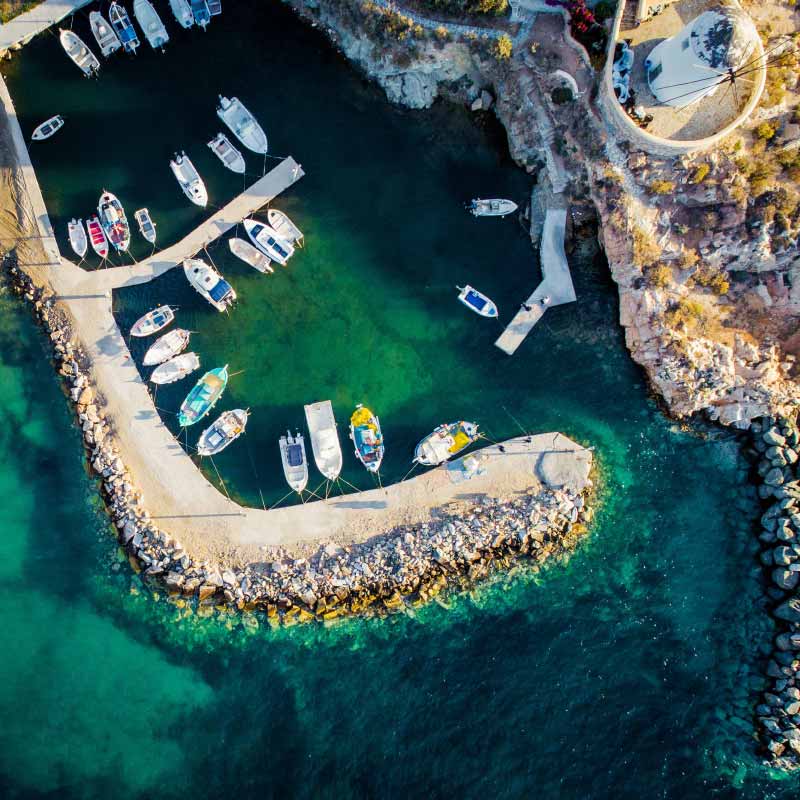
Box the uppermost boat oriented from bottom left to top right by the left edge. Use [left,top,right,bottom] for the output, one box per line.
[31,114,66,140]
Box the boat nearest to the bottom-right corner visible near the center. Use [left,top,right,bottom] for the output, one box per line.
[413,427,480,465]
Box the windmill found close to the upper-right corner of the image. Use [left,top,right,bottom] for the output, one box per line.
[640,6,800,123]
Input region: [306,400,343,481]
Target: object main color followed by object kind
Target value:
white boat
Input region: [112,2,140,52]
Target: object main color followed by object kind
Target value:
blue boat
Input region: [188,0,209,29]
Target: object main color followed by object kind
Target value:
blue boat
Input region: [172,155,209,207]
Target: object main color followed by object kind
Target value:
white boat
